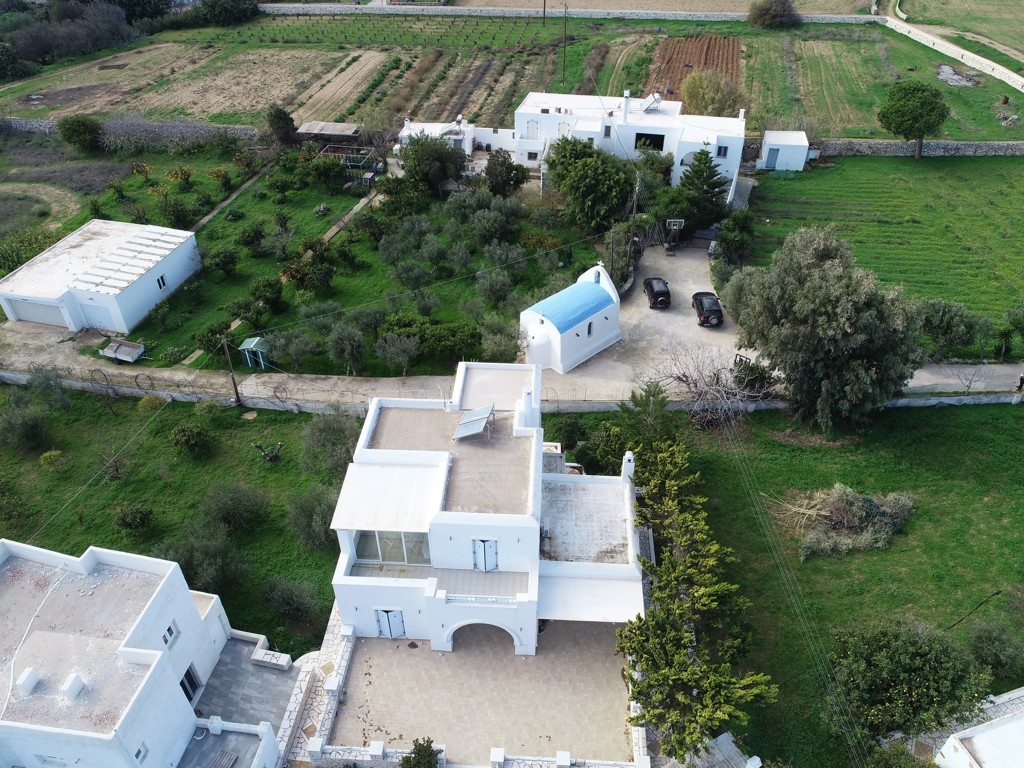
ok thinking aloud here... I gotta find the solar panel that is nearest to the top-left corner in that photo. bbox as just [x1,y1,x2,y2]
[444,114,467,137]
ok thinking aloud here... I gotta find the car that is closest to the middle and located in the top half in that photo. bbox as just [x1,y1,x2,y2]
[642,276,673,306]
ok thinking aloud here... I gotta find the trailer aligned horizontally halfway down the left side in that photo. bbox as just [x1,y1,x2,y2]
[95,340,153,366]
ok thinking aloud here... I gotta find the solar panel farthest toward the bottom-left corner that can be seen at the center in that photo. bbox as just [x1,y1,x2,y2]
[452,400,496,445]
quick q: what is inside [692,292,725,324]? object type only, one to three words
car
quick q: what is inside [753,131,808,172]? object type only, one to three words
shed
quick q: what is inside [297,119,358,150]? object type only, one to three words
shed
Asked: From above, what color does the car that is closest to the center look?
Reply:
black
